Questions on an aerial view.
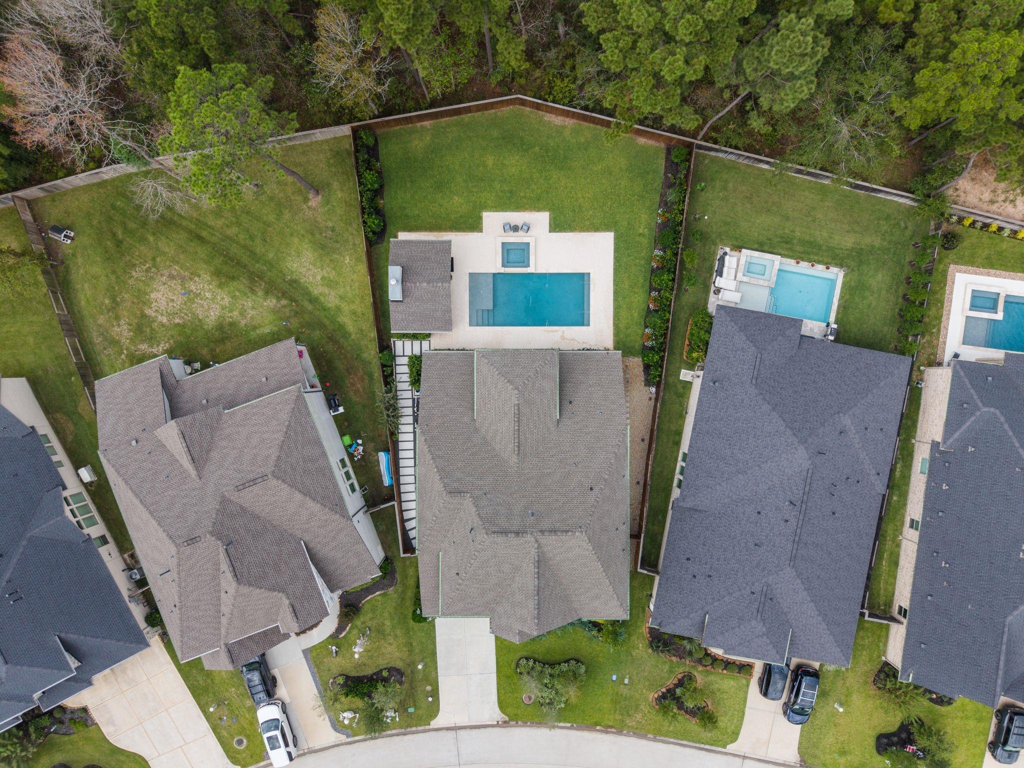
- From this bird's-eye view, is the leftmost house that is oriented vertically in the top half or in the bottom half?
bottom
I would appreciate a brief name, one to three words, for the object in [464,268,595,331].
swimming pool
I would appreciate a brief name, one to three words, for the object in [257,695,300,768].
car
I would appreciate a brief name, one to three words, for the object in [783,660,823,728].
car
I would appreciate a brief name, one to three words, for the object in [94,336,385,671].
house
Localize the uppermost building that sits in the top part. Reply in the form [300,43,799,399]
[389,238,454,334]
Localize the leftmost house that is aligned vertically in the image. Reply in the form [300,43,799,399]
[0,378,153,731]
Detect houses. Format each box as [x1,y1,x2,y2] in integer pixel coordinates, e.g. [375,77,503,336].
[415,348,631,645]
[885,351,1024,710]
[0,378,153,731]
[94,336,385,671]
[648,303,913,669]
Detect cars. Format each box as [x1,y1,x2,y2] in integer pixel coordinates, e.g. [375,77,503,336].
[986,699,1024,768]
[257,695,300,768]
[783,660,823,728]
[237,652,280,708]
[754,658,792,708]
